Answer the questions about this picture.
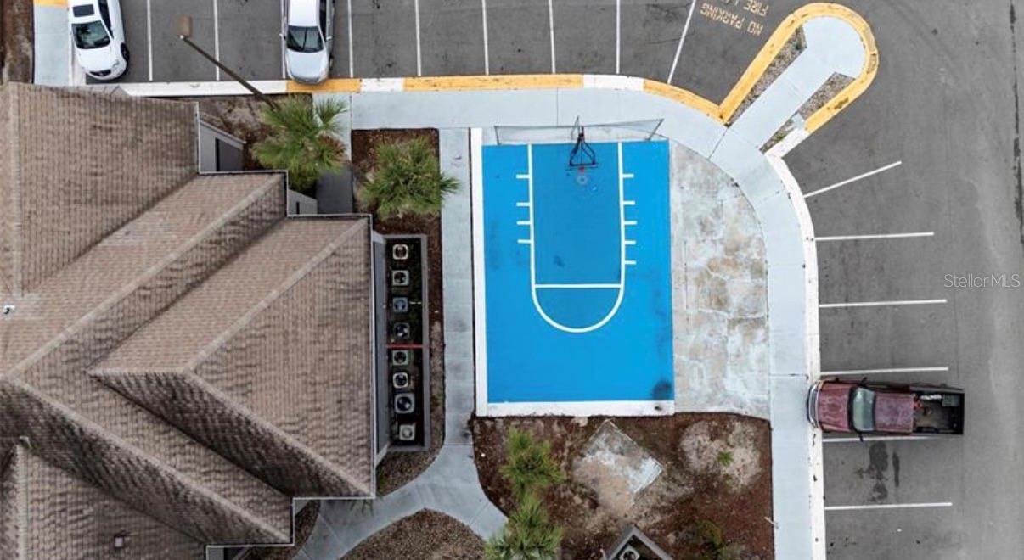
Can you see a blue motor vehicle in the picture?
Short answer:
No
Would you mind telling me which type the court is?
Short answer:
basketball court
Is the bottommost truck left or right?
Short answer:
right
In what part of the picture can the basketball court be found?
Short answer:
center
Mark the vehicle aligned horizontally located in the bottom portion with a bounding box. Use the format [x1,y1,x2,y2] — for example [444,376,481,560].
[806,379,963,442]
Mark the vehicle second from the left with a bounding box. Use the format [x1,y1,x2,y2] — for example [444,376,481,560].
[277,0,334,84]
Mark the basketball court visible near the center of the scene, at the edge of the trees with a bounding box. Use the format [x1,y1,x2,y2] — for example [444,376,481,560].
[471,128,674,416]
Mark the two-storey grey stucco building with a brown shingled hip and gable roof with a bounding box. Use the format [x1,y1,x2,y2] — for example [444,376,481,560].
[0,77,388,560]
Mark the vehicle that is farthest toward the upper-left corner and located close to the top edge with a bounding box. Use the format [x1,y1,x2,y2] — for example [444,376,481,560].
[64,0,130,81]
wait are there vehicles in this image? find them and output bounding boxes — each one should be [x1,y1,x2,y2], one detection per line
[277,0,334,84]
[806,379,963,442]
[64,0,130,81]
